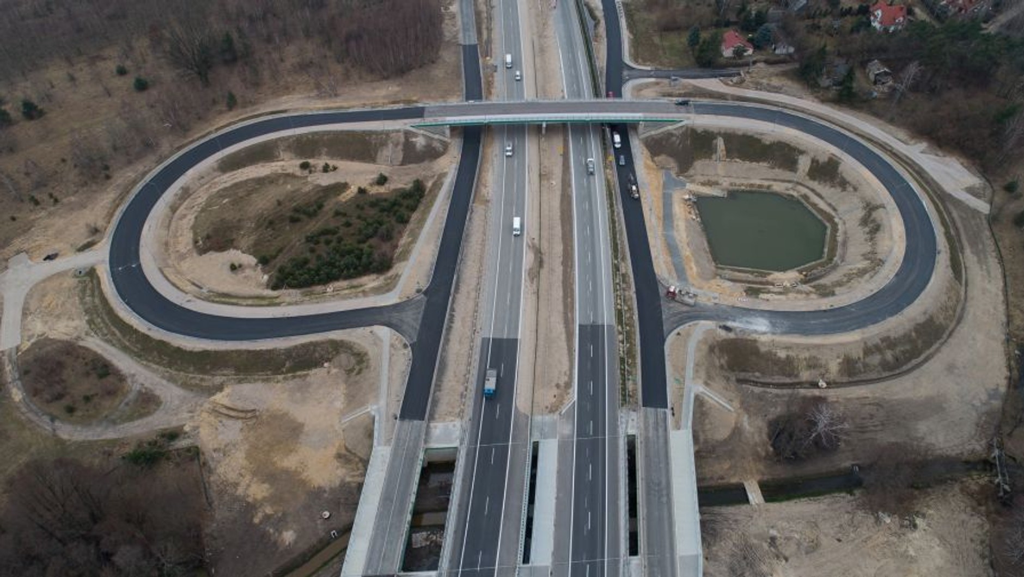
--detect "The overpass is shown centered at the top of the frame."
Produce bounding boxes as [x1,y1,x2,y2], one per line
[409,96,693,141]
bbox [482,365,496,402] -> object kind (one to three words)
vehicle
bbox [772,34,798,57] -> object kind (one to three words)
house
